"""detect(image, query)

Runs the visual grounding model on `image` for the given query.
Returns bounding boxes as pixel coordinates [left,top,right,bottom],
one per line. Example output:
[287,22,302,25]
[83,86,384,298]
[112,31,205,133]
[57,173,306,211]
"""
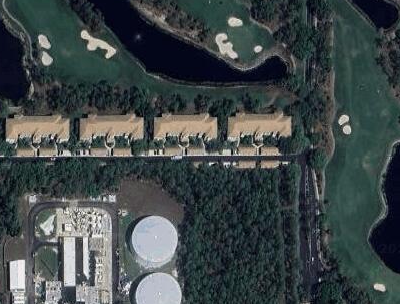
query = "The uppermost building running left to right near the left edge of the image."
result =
[6,115,70,147]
